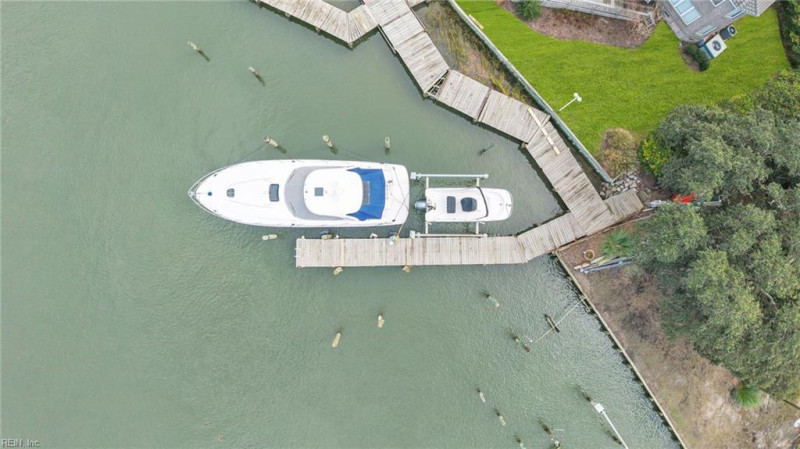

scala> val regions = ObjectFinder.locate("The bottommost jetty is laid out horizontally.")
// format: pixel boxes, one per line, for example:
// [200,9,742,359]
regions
[295,212,587,268]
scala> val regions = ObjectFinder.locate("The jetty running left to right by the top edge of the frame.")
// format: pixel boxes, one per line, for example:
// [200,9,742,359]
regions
[254,0,378,52]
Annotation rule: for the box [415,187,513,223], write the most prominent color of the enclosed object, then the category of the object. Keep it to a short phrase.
white boat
